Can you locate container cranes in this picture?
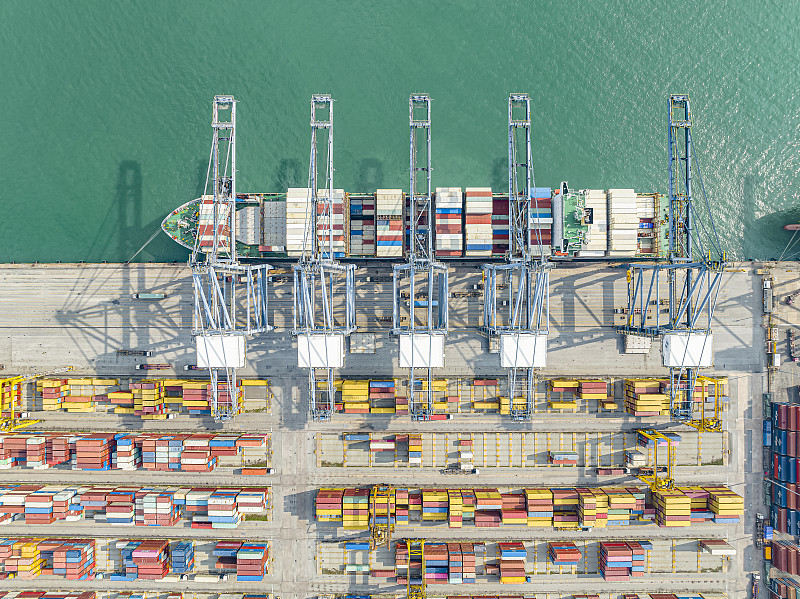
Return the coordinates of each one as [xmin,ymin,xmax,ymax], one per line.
[676,376,722,436]
[402,537,428,599]
[634,430,678,494]
[184,89,284,424]
[469,89,553,424]
[386,89,451,424]
[291,89,366,424]
[604,89,734,424]
[370,484,395,551]
[0,376,46,436]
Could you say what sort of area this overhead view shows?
port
